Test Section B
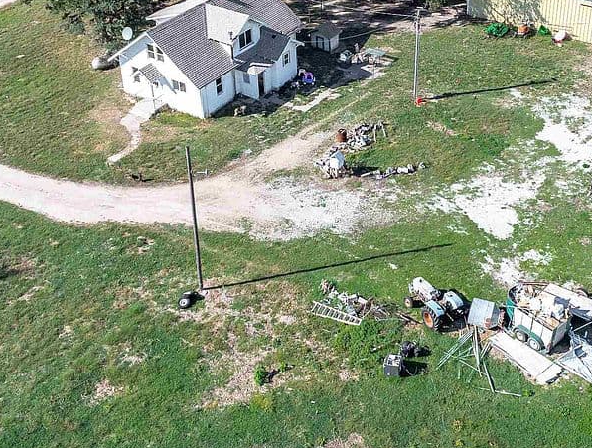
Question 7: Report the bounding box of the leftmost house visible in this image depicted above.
[108,0,304,117]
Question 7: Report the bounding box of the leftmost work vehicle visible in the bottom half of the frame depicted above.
[410,276,474,335]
